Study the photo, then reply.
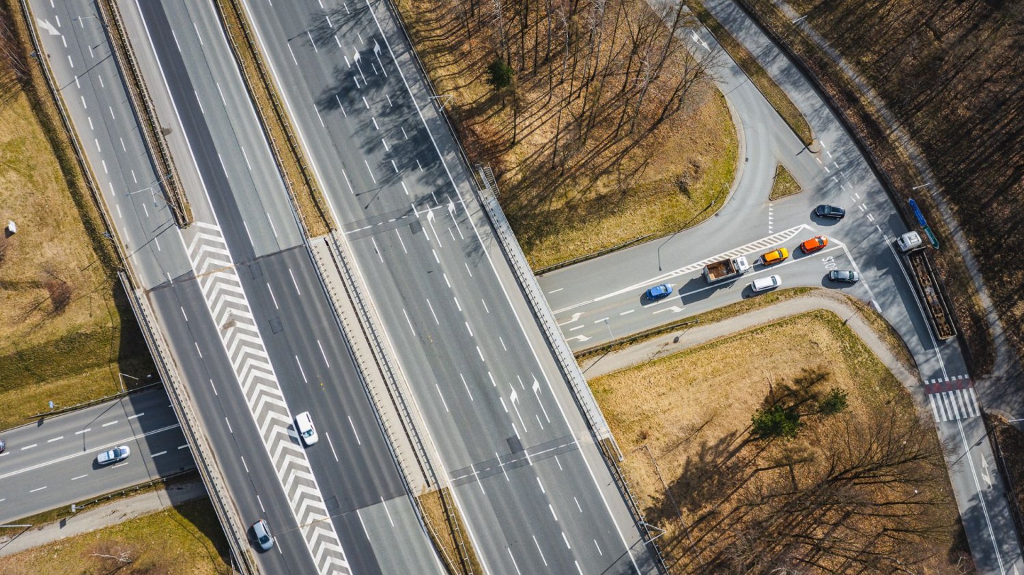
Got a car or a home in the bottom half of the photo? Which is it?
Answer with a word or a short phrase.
car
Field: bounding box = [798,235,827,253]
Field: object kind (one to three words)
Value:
car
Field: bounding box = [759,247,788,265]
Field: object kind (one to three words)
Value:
car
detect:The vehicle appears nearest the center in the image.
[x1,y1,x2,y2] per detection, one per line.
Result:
[645,283,673,301]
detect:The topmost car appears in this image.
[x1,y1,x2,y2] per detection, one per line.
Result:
[814,203,846,220]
